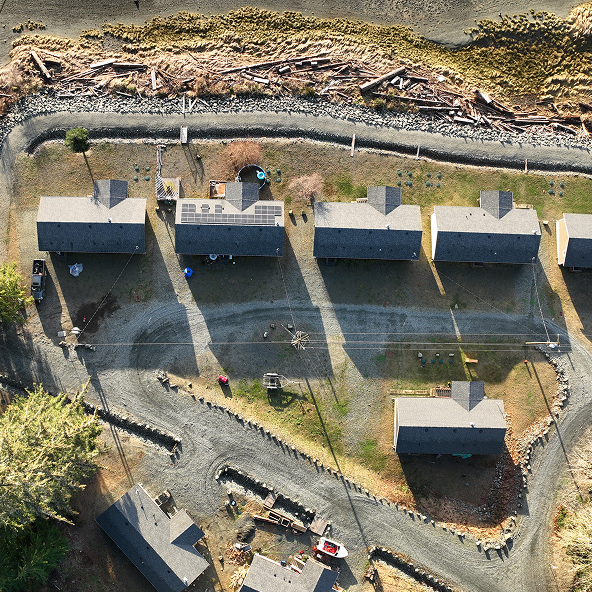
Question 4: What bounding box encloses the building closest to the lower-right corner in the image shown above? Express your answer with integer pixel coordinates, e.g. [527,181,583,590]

[390,380,507,459]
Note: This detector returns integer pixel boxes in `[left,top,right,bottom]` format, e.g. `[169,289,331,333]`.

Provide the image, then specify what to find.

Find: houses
[96,483,210,592]
[239,551,346,592]
[556,213,592,279]
[174,178,284,266]
[390,380,507,459]
[430,190,542,273]
[312,186,423,269]
[36,179,147,263]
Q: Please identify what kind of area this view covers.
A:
residential area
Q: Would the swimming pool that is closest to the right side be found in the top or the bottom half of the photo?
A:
top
